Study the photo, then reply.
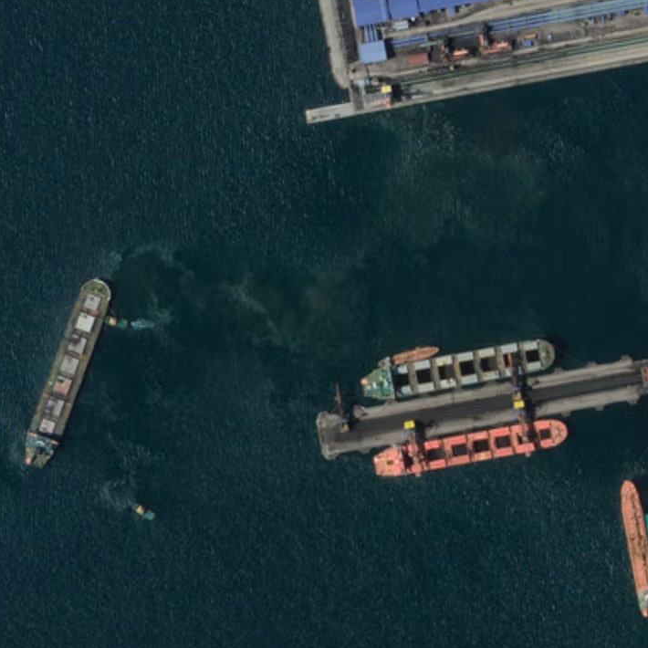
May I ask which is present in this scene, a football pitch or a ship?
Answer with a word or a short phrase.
ship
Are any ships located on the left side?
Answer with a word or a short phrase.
Yes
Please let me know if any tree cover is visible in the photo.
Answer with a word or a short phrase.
No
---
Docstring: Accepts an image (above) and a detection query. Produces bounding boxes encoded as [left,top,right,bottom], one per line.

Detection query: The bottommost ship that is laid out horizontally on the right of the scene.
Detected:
[373,421,568,478]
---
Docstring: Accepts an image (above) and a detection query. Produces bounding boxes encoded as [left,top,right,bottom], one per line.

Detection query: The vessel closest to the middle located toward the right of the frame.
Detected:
[381,348,441,366]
